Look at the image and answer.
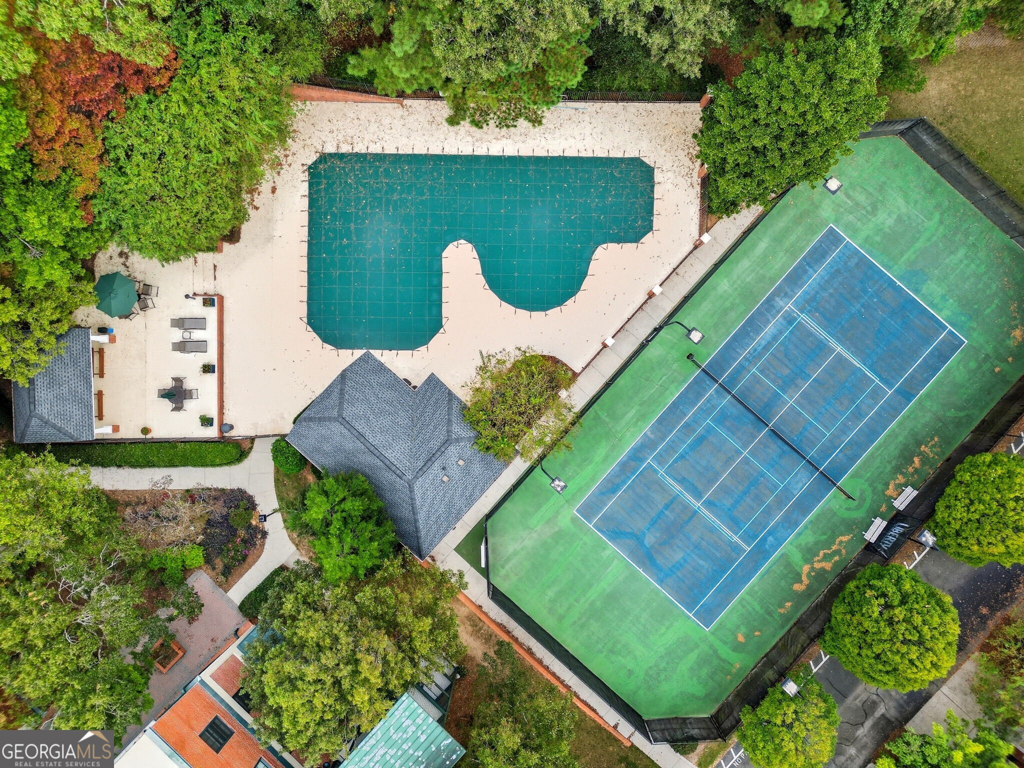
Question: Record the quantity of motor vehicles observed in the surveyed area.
0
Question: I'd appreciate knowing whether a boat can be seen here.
No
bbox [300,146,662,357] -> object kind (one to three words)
swimming pool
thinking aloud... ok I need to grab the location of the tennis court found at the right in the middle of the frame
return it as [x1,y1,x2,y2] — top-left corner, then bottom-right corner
[484,134,1024,721]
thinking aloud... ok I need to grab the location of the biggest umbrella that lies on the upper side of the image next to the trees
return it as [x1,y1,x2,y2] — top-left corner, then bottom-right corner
[94,272,140,318]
